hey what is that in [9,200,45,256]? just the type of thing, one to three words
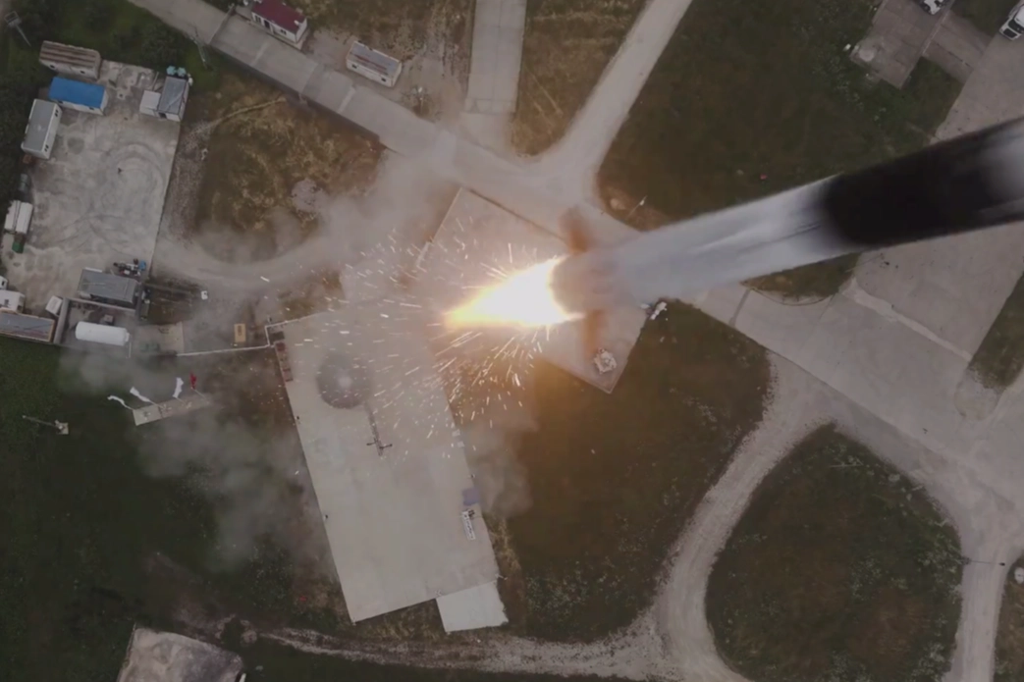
truck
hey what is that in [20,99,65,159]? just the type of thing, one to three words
building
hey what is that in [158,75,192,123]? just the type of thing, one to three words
shed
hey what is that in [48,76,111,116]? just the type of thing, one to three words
building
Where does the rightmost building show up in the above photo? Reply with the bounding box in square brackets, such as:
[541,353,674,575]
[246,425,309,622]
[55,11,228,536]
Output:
[346,38,401,89]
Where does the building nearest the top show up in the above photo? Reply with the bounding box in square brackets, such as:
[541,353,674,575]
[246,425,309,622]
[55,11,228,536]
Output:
[250,0,313,58]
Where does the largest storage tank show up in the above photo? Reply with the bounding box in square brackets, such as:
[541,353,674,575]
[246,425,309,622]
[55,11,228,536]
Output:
[75,322,139,360]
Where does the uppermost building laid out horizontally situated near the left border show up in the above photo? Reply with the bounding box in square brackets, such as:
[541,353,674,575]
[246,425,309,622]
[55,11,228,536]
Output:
[39,42,107,80]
